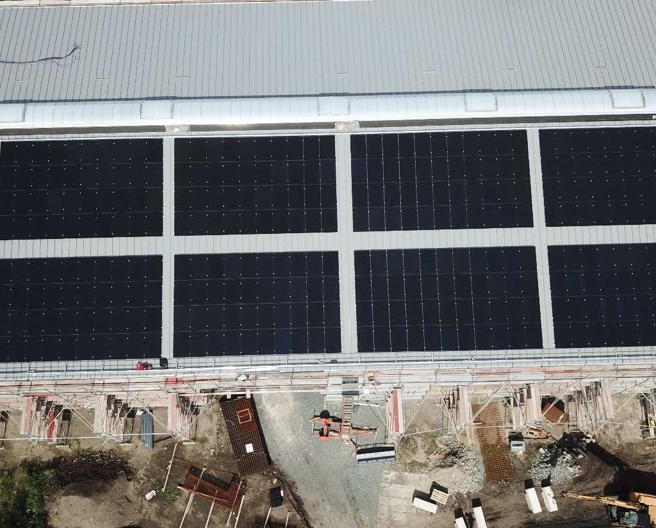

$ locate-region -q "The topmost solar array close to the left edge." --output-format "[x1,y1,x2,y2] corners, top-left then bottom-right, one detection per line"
[0,138,164,239]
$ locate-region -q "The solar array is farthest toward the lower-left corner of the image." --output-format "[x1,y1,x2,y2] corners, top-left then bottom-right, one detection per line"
[0,255,163,362]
